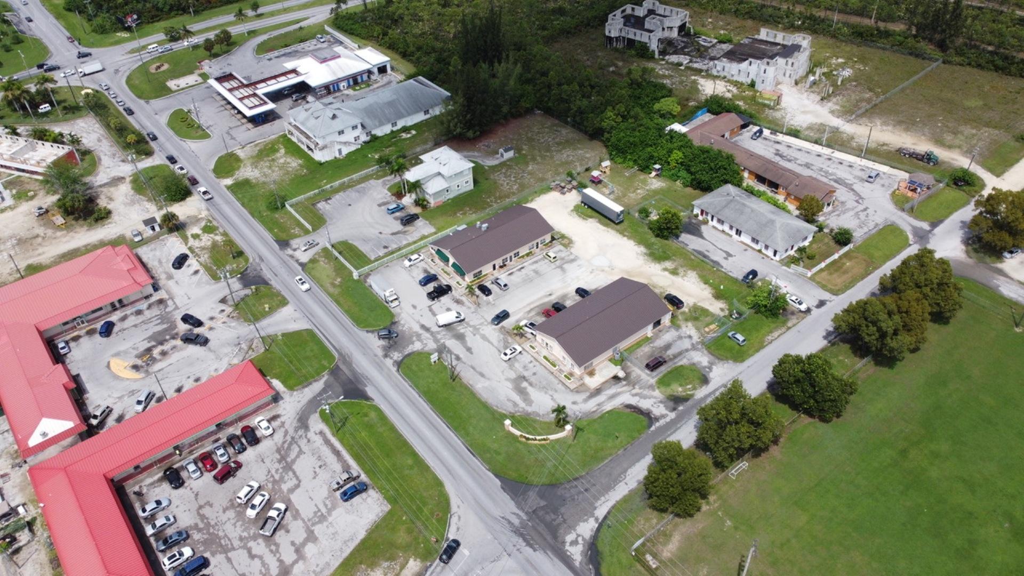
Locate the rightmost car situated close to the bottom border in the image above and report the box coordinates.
[438,537,461,566]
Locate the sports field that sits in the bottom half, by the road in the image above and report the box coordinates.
[594,284,1024,576]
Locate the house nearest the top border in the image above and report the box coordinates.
[604,0,689,58]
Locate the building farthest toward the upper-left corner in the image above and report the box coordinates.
[0,135,79,180]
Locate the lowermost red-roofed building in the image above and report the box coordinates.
[29,361,281,576]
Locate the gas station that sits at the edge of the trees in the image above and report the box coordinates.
[199,46,391,124]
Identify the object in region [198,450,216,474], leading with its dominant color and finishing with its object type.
red car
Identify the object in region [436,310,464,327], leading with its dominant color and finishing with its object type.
white vehicle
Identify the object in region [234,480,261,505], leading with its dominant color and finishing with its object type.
white car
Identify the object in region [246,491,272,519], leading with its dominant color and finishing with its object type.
white car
